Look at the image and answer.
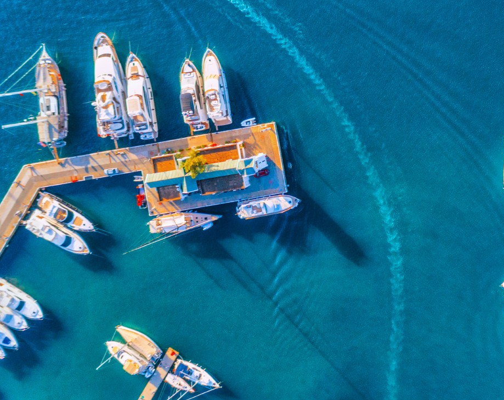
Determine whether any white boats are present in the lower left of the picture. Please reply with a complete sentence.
Yes, in the lower left of the picture there is a white boat.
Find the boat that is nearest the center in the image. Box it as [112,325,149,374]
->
[238,193,300,220]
